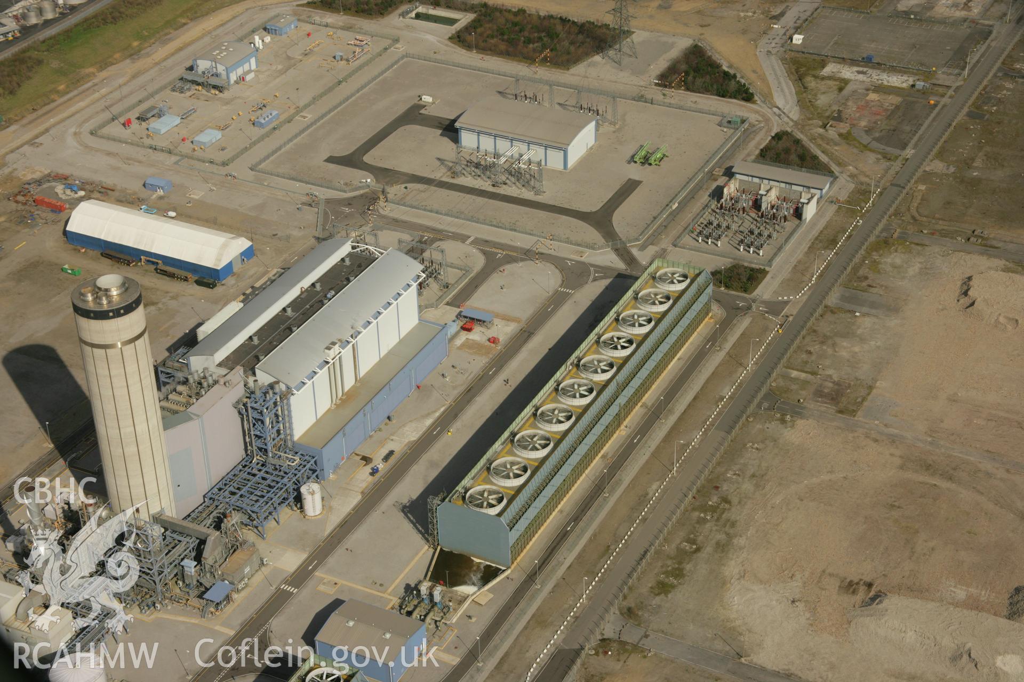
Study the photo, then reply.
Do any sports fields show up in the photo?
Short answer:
No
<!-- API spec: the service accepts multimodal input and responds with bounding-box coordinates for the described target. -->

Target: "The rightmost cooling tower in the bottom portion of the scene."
[435,259,714,567]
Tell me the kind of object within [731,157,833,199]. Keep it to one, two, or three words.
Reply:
building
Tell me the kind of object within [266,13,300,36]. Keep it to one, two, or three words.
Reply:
building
